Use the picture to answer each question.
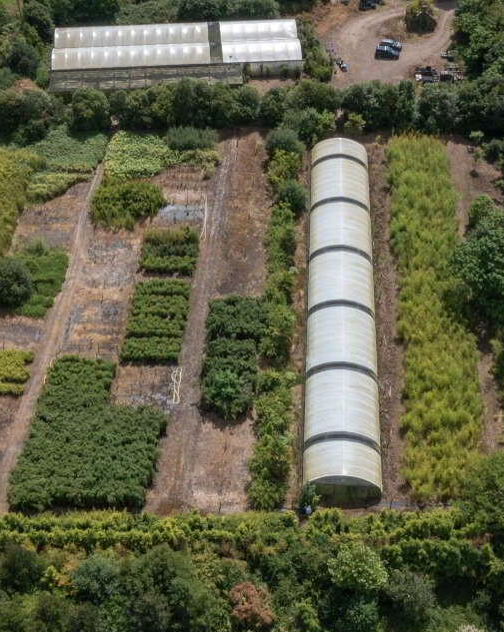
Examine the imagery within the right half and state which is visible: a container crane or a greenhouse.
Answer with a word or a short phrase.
greenhouse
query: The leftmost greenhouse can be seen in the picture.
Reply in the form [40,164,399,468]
[51,23,240,90]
